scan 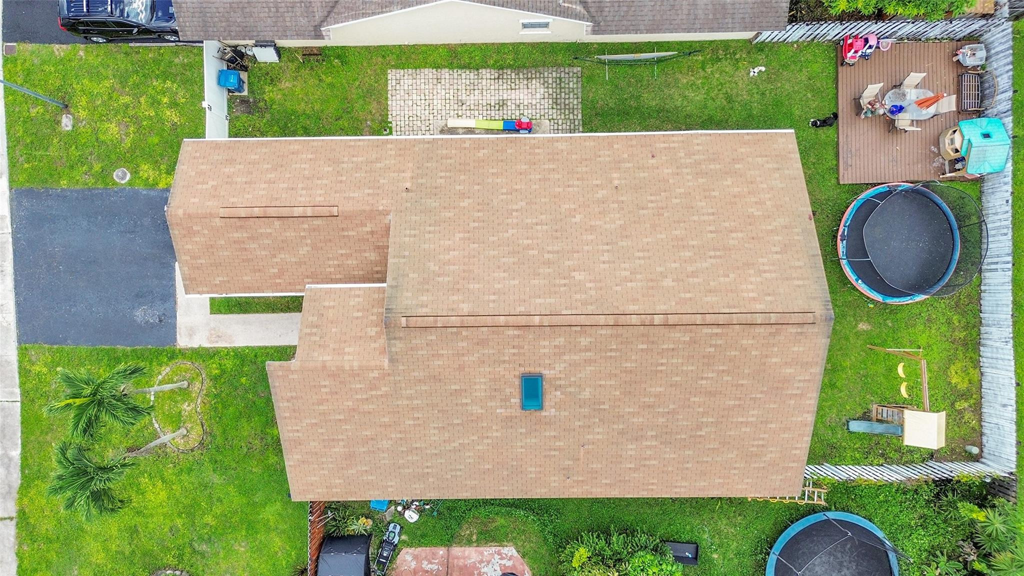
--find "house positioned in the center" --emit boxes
[162,128,835,501]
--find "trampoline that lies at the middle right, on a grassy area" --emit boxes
[827,177,990,305]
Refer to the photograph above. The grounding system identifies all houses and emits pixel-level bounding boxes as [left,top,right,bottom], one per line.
[162,128,835,501]
[172,0,791,48]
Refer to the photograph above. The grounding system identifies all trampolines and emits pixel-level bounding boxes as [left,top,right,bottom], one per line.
[758,504,915,576]
[827,177,990,305]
